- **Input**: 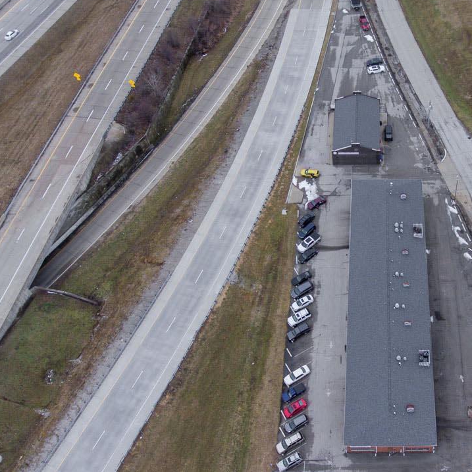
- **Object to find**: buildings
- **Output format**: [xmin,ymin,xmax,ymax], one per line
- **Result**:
[332,94,382,165]
[343,177,437,452]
